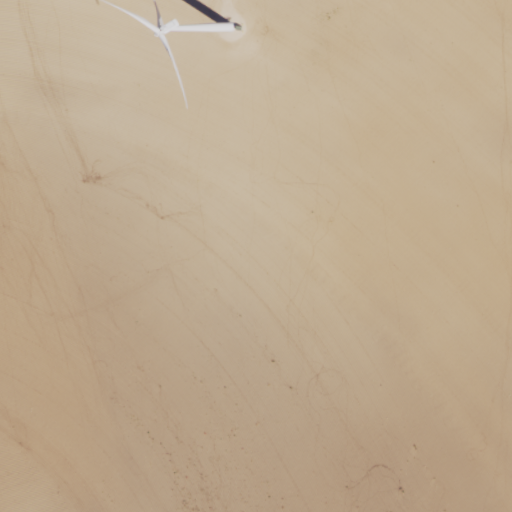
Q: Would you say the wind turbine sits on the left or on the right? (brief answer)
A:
left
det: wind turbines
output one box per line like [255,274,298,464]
[104,0,235,108]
